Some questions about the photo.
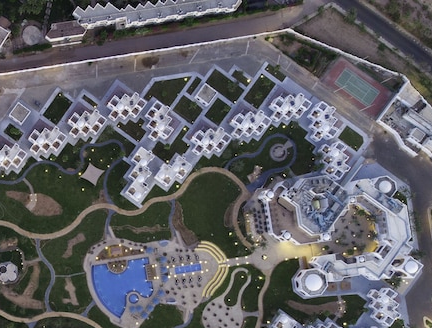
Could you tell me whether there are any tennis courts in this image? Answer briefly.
Yes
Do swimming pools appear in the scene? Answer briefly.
Yes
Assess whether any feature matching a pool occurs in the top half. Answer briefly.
No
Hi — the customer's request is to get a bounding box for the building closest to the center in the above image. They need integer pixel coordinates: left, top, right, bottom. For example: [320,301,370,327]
[190,127,230,155]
